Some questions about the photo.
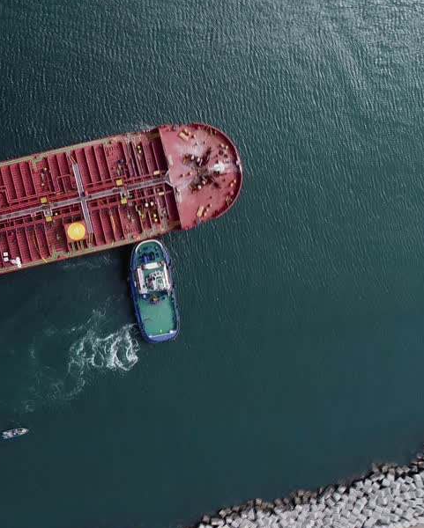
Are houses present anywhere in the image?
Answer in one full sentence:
No, there is no house in the image.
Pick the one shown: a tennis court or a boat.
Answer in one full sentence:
Looking from above, you can make out a boat.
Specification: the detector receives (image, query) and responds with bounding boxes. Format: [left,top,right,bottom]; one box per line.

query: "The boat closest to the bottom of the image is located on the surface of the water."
[0,428,28,440]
